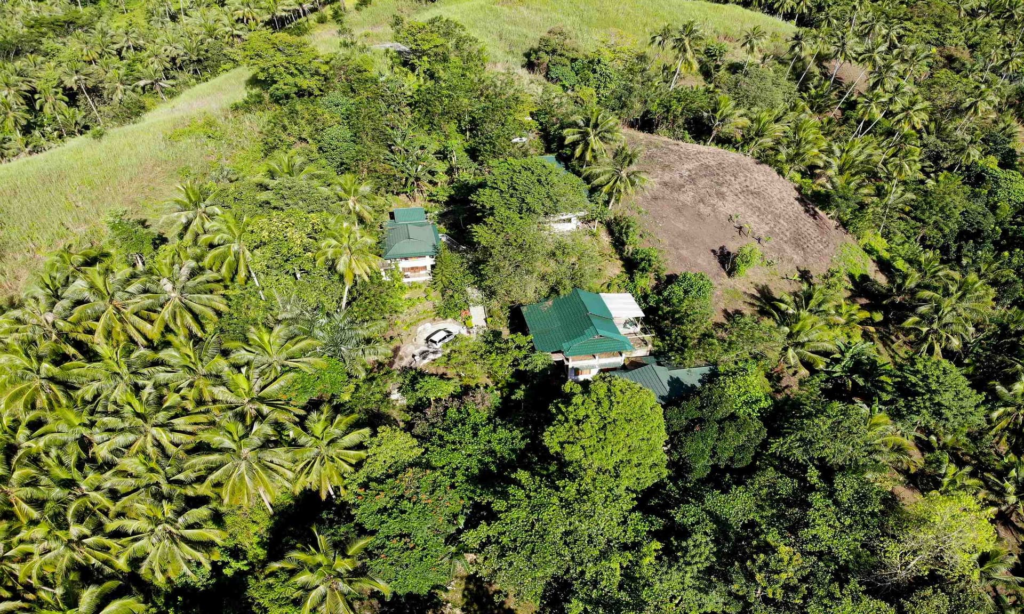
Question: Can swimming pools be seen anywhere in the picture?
No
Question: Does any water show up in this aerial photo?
No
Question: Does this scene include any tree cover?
Yes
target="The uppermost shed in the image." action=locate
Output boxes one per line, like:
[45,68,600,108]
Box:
[377,45,411,58]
